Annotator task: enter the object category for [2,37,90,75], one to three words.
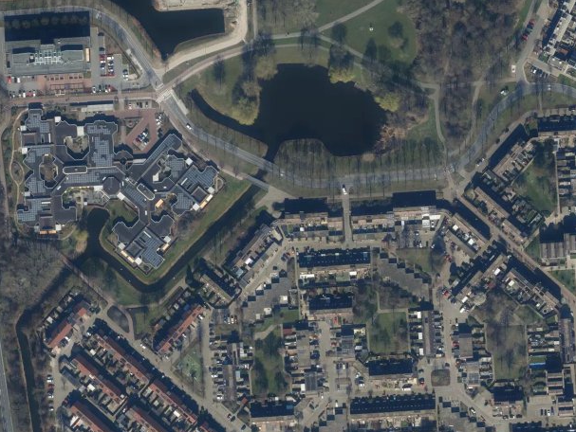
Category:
building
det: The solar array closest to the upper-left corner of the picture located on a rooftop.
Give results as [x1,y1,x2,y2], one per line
[26,114,49,133]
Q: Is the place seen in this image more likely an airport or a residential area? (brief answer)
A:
residential area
